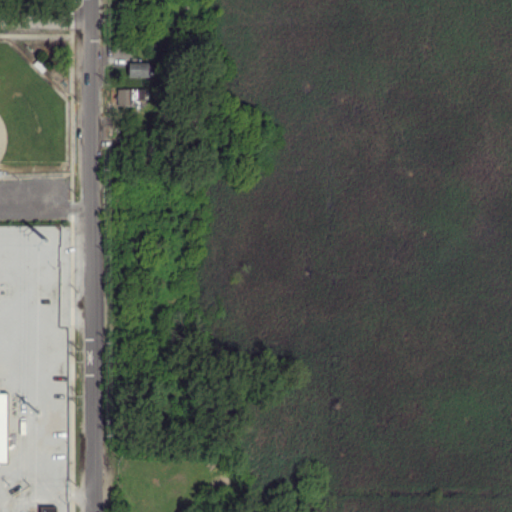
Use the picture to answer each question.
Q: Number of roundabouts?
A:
0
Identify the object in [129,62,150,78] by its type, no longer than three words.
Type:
house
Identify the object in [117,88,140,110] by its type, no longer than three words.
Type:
house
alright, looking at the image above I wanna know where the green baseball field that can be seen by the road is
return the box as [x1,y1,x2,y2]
[0,40,69,175]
